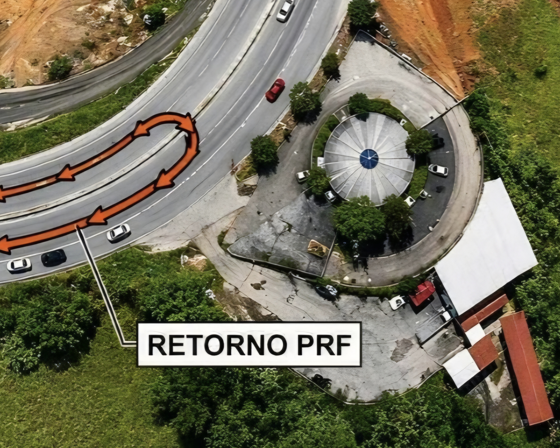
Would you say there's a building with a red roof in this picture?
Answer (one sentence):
Yes, you can see a building with a red roof in this photo.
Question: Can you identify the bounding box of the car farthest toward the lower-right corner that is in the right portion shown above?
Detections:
[436,304,454,324]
